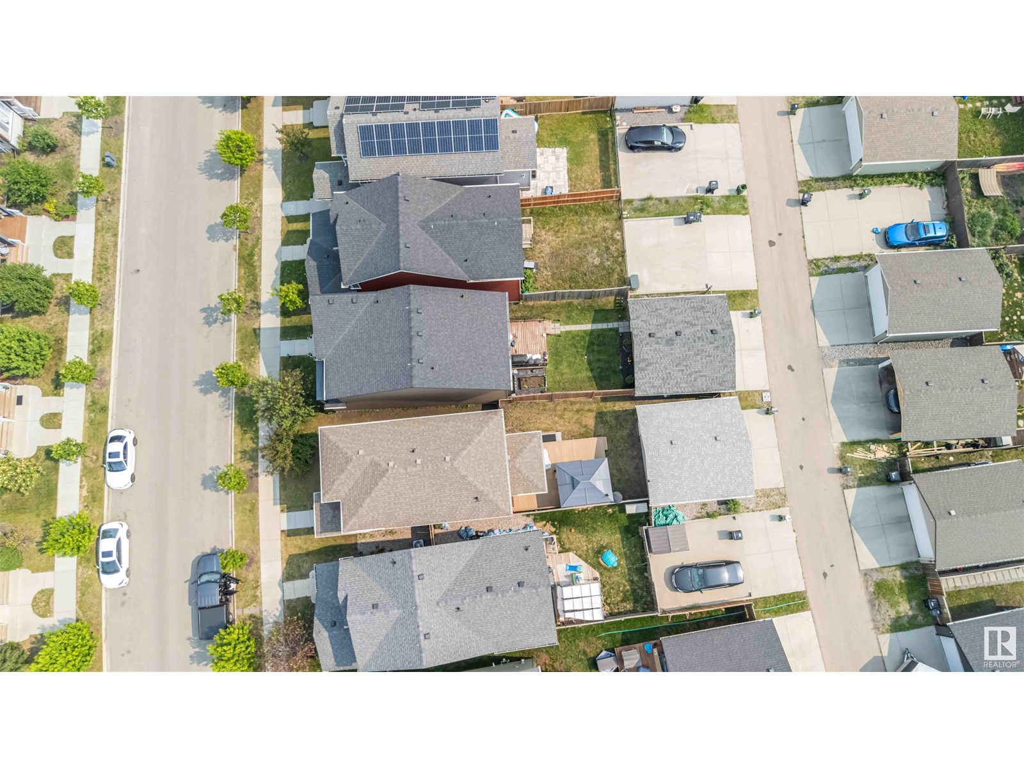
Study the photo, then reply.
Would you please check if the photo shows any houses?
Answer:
Yes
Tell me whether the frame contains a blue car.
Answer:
Yes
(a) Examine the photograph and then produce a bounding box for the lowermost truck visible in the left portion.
[191,555,242,644]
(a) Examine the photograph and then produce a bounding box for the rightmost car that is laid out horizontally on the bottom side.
[673,561,750,600]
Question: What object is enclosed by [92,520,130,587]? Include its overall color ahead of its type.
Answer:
white car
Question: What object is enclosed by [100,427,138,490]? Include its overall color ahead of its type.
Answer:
white car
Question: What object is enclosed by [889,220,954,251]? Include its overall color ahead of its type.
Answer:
blue car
